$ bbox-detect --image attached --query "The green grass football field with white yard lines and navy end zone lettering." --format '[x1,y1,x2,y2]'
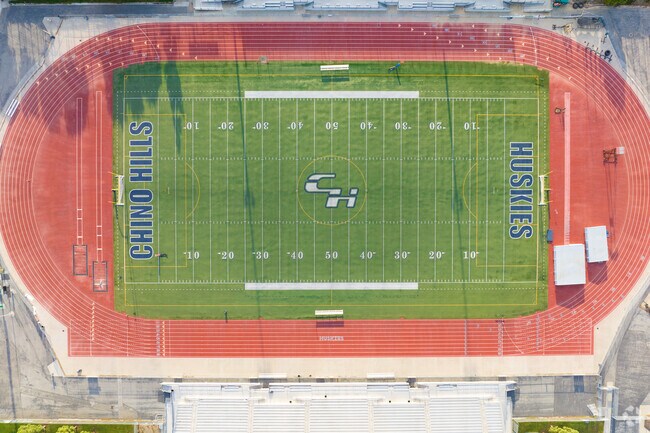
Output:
[114,60,548,319]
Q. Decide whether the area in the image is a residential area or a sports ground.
sports ground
